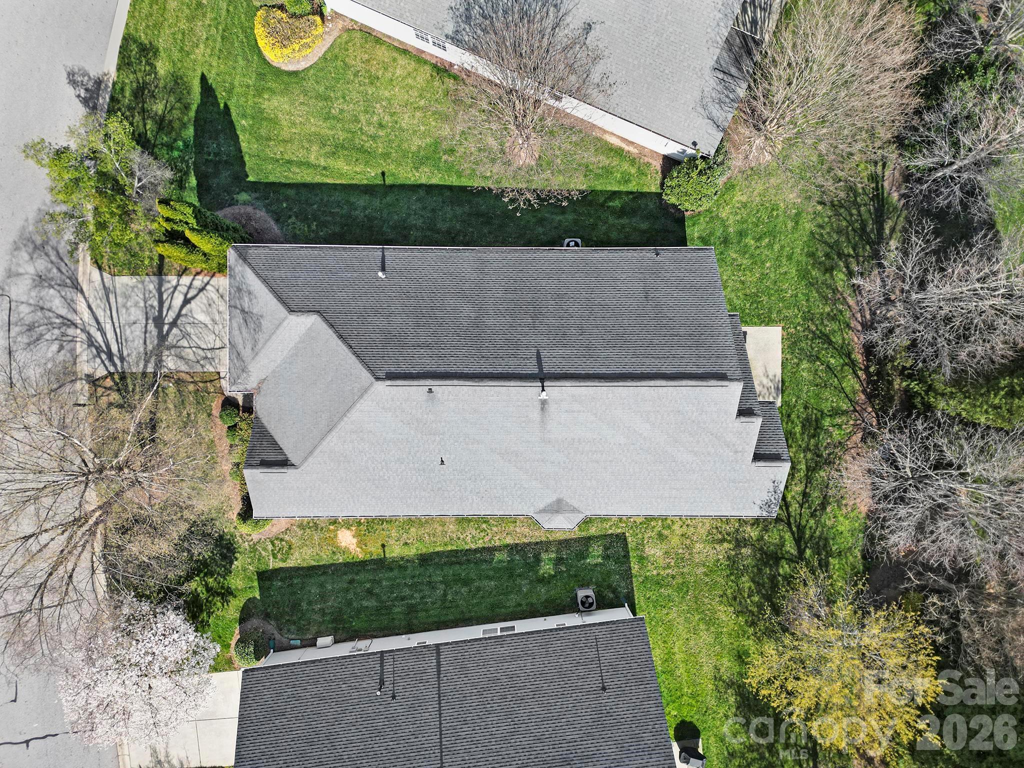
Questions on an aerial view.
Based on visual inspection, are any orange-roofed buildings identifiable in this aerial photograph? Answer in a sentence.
No, this view has no orange-roofed building in it.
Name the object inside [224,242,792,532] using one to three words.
house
